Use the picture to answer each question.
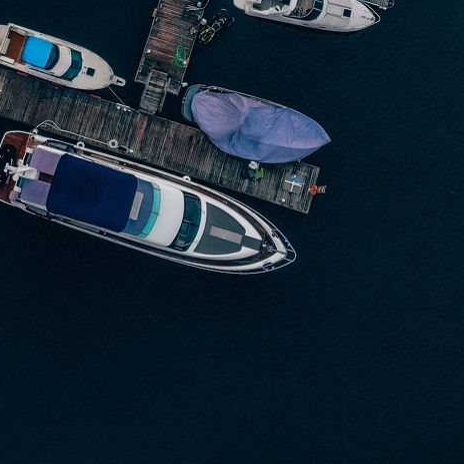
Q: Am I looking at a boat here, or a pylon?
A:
boat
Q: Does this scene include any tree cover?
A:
No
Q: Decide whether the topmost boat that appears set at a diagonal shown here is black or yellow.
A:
black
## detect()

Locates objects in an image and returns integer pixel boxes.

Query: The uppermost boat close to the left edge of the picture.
[0,23,122,87]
